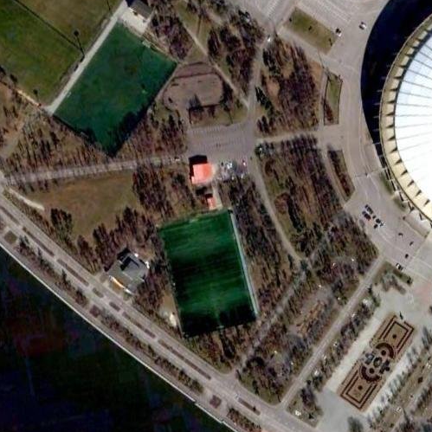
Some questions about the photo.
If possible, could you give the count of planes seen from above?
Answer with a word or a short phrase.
zero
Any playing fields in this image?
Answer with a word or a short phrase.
Yes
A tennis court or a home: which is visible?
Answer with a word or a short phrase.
home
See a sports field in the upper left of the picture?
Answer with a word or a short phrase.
Yes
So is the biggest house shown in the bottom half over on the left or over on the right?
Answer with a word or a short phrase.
left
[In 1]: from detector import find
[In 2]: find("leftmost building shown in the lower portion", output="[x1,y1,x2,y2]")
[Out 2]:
[108,253,149,294]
